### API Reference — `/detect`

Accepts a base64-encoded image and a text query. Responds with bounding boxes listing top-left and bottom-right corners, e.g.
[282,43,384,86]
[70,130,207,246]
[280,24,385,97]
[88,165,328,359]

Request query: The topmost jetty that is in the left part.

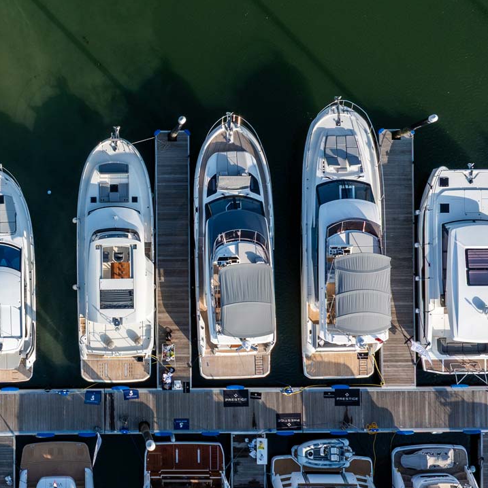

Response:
[153,128,193,388]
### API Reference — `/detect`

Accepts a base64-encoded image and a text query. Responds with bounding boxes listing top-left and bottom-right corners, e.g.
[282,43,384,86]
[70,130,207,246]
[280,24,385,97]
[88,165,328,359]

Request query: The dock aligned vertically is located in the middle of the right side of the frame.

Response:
[377,127,416,386]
